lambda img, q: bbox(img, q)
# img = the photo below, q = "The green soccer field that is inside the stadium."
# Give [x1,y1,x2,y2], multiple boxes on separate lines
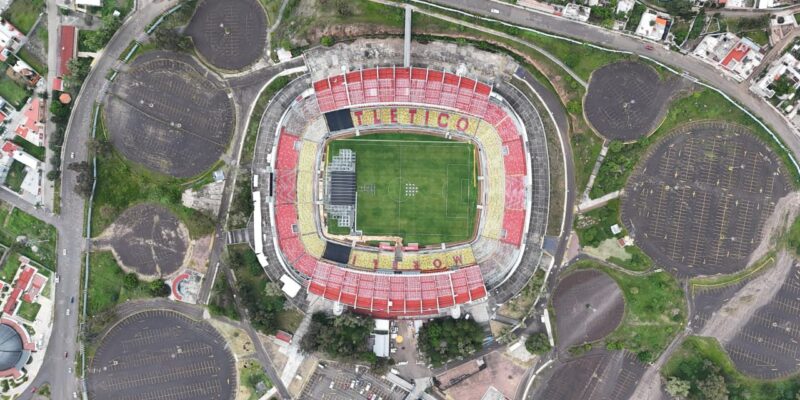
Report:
[323,132,478,242]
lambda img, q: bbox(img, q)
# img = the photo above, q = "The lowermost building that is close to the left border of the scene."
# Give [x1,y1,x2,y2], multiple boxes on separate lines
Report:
[0,315,40,379]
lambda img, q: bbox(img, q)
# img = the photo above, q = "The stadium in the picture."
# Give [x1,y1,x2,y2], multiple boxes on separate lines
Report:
[225,55,561,321]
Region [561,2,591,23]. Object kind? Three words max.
house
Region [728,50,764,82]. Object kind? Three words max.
house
